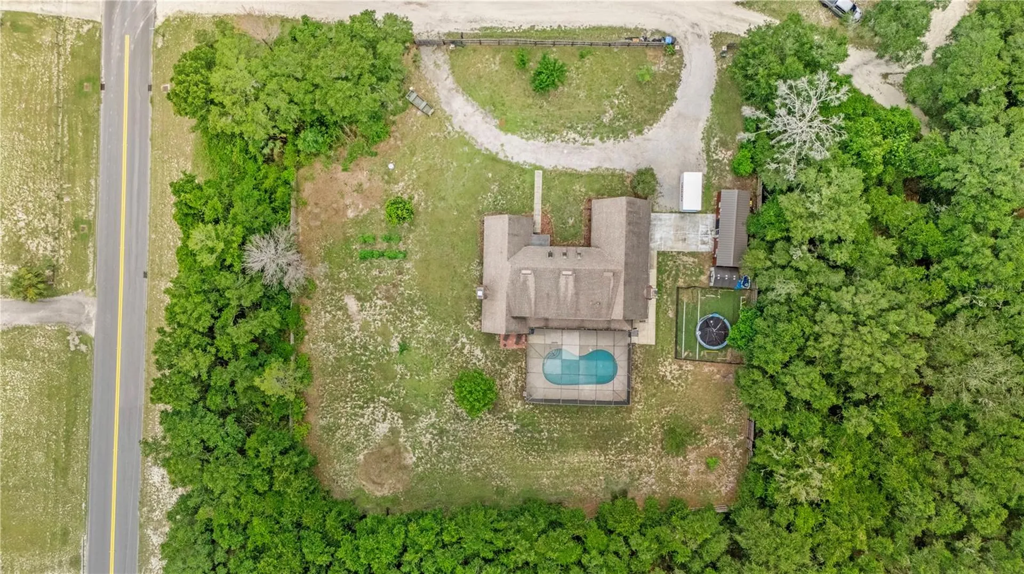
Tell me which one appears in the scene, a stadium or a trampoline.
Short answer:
trampoline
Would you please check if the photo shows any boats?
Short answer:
Yes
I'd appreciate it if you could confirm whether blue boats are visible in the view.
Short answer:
No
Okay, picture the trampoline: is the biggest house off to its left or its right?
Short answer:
to the left of it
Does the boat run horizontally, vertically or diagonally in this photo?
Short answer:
diagonally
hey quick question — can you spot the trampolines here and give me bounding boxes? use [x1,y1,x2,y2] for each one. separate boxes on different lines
[697,312,731,348]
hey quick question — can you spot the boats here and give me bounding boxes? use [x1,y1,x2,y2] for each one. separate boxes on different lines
[405,88,434,115]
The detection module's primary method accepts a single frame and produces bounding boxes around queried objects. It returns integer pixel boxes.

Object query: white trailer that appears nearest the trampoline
[678,171,703,218]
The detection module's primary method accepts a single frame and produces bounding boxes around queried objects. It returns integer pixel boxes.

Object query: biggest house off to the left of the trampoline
[476,197,652,334]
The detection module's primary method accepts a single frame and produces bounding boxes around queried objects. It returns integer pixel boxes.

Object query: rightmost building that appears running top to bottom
[712,188,750,268]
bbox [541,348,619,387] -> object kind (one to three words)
swimming pool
